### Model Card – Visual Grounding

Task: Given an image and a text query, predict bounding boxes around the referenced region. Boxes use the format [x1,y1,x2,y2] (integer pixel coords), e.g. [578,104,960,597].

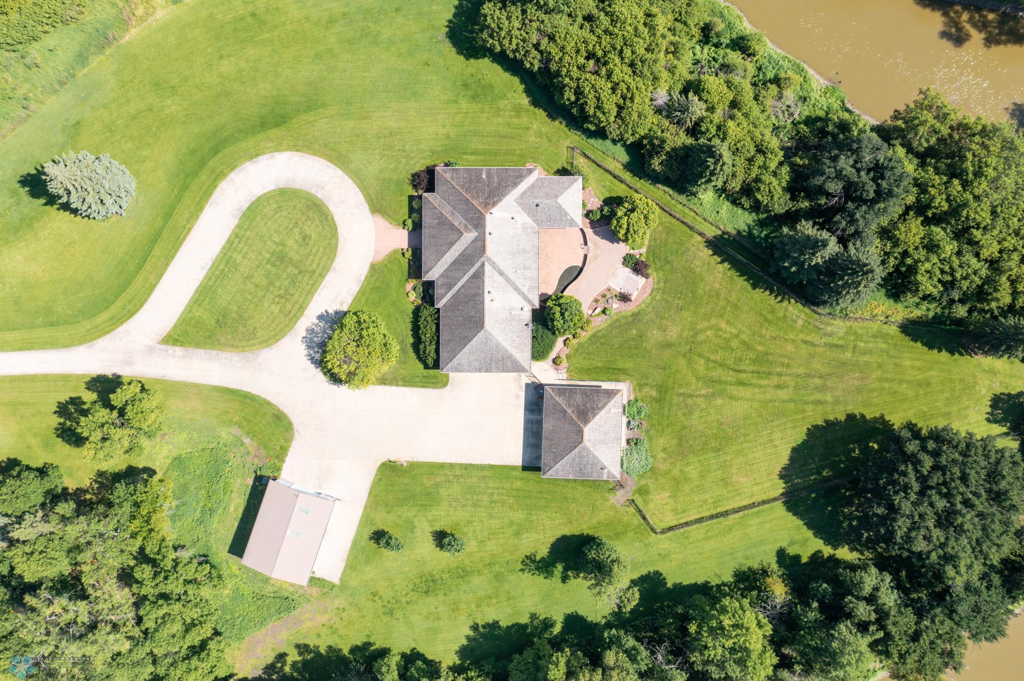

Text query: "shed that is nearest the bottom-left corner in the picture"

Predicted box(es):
[241,476,339,586]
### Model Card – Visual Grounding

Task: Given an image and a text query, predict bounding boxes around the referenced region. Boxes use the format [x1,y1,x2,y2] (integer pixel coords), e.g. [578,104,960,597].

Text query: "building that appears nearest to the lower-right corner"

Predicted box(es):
[541,386,624,481]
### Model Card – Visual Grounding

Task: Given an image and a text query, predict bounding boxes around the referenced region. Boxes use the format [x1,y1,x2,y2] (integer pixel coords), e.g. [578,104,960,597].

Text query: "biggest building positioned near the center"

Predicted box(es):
[422,167,583,373]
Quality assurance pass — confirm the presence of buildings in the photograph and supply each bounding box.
[241,476,339,586]
[541,386,624,481]
[422,167,583,373]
